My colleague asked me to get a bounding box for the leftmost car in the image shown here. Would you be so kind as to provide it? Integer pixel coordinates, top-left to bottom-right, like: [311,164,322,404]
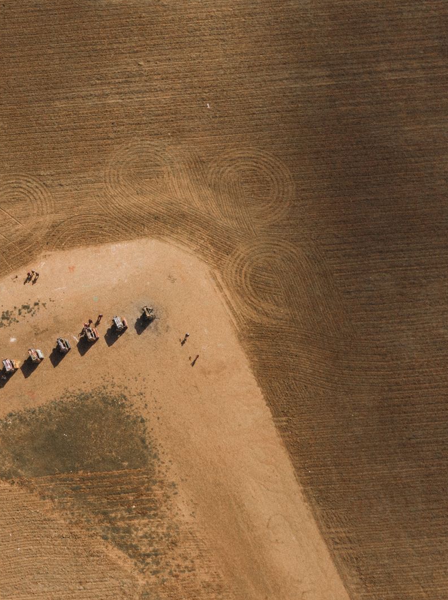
[1,356,18,373]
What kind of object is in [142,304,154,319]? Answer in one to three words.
vehicle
